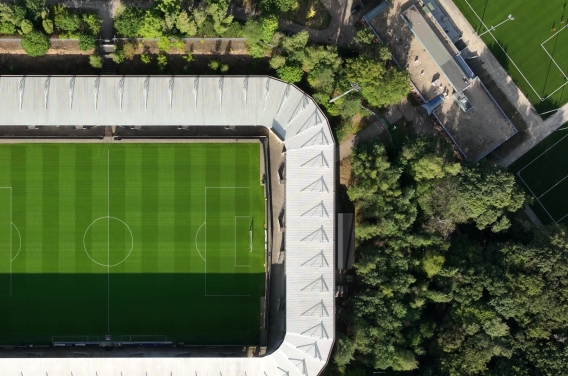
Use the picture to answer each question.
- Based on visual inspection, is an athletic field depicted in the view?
Yes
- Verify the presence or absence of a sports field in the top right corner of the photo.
Yes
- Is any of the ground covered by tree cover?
Yes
